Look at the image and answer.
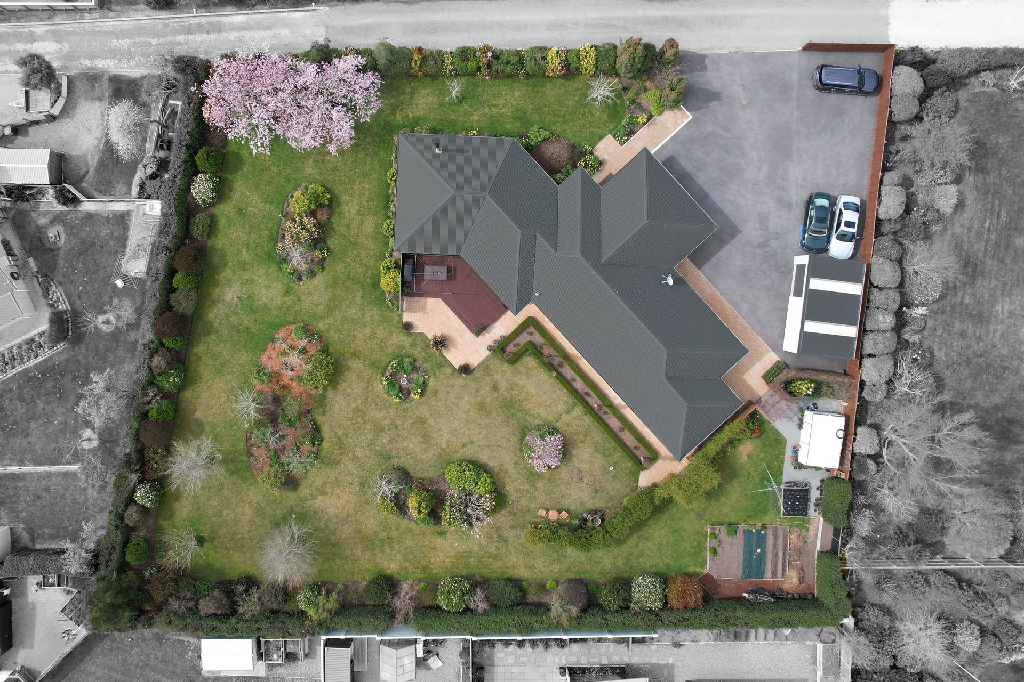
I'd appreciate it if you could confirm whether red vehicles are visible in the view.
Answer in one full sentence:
No, there's no red vehicle here.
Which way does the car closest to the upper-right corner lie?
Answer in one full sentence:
From this overhead view, the car closest to the upper-right corner appears to run from left to right.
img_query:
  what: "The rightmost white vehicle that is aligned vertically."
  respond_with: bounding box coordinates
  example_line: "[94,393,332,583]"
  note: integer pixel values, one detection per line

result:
[824,195,858,260]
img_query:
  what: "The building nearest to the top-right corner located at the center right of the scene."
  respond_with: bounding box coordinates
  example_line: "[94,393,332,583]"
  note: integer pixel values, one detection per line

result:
[785,256,868,359]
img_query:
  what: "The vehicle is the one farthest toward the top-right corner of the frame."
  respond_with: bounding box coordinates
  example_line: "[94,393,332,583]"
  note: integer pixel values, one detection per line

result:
[805,64,877,99]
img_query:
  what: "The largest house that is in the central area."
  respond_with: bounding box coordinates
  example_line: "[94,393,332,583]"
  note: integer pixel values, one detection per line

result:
[392,131,752,463]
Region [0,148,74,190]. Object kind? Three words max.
shed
